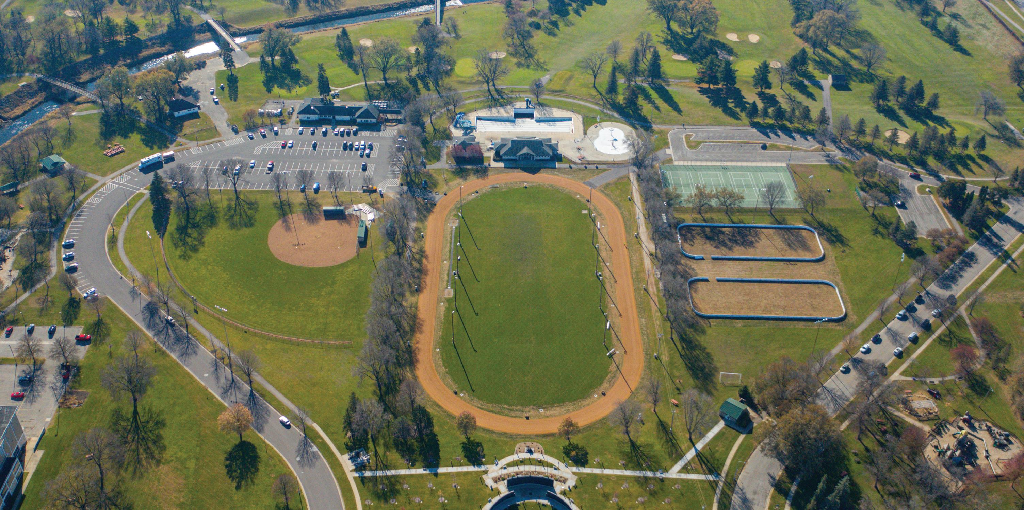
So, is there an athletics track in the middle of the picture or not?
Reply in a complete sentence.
Yes, in the middle of the picture there is an athletics track.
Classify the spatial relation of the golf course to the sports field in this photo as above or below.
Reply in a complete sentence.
The golf course is above the sports field.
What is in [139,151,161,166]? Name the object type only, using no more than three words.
camper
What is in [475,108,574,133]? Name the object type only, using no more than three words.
swimming pool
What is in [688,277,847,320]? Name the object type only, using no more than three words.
sports court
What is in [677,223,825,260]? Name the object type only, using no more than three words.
sports court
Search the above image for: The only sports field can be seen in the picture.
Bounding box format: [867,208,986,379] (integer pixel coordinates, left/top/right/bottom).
[440,185,612,407]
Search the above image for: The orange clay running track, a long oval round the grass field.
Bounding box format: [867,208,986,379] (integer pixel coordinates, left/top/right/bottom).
[414,172,644,434]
